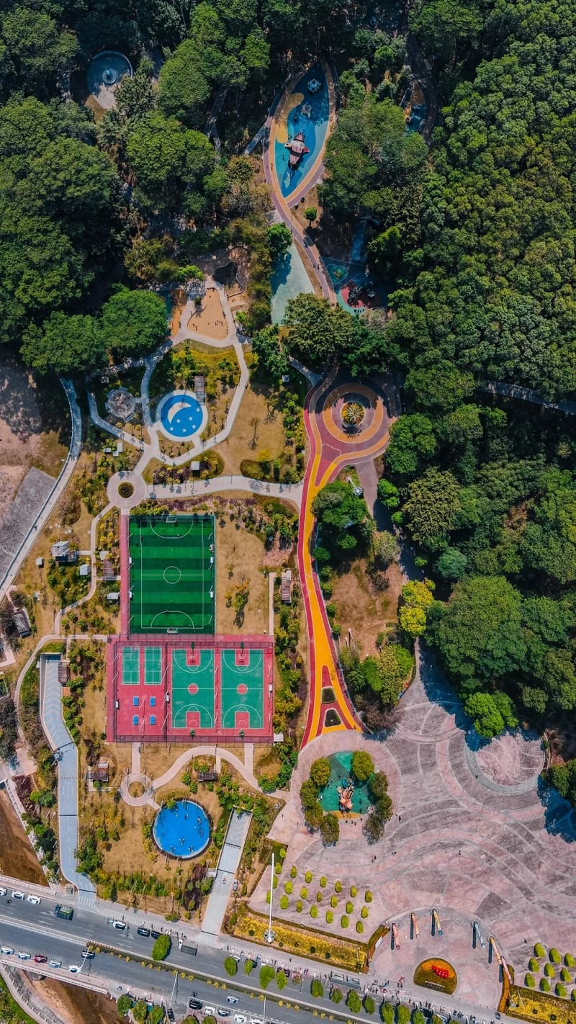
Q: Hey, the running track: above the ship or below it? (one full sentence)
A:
Within the scene, the running track can be found below the ship.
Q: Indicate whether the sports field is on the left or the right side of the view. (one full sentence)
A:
You can find the sports field on the left side of the picture.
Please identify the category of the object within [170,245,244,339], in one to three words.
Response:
playground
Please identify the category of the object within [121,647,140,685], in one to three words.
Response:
sports court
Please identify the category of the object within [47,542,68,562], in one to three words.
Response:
shed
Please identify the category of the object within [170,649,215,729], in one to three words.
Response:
basketball court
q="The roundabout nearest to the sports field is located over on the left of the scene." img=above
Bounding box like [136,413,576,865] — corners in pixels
[108,472,145,509]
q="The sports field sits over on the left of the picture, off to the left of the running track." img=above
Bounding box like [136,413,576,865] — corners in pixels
[127,515,216,634]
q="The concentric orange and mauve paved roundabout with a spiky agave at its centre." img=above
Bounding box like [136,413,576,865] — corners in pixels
[316,367,400,459]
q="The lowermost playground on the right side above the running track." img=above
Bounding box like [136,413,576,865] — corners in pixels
[322,256,390,316]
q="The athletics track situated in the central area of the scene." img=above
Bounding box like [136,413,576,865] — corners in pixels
[298,380,389,748]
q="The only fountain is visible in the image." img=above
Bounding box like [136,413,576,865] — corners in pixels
[99,65,118,85]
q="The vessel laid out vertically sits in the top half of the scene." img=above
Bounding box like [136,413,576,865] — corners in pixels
[282,117,312,185]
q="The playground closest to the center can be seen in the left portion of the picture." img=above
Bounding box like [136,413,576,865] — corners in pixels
[156,390,207,442]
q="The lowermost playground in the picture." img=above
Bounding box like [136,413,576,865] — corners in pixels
[313,753,380,820]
